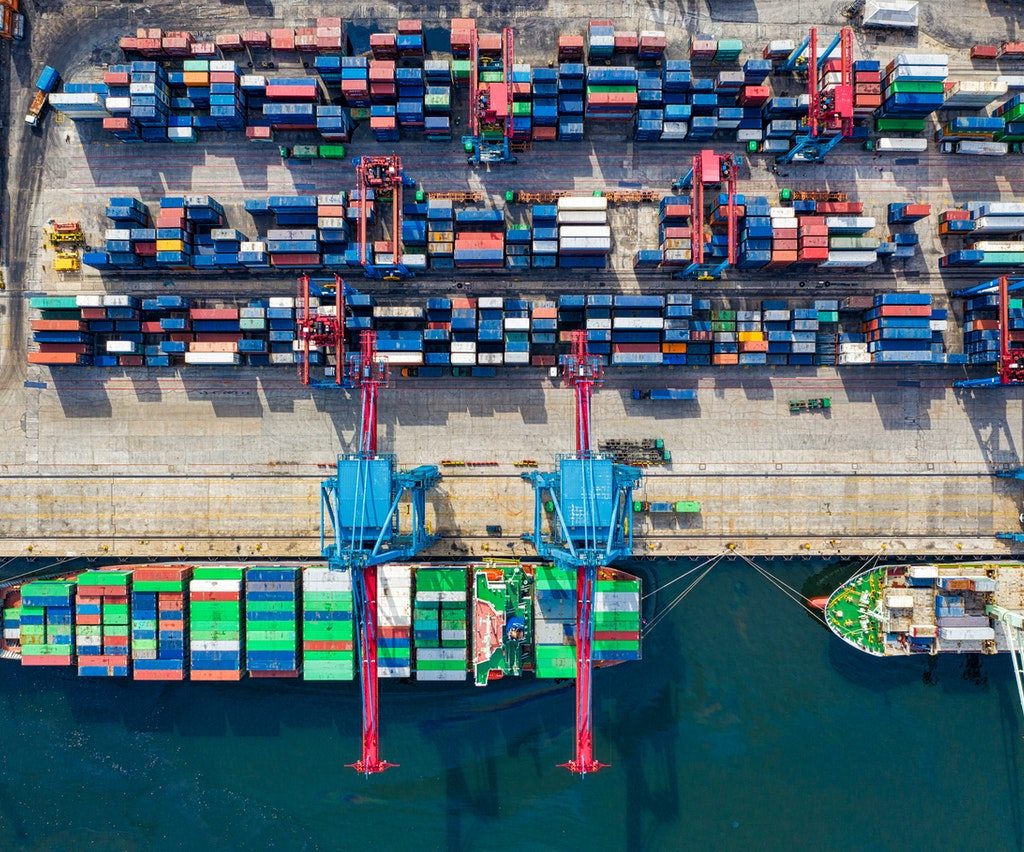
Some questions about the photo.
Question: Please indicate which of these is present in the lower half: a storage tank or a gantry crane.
gantry crane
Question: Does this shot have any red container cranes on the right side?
Yes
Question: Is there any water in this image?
Yes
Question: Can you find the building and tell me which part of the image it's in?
top right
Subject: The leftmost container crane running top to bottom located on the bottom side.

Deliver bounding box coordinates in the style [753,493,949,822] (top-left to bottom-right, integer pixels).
[323,332,444,781]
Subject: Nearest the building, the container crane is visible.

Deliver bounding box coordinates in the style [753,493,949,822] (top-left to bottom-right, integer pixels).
[778,27,852,160]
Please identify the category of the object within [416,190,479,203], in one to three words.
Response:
vehicle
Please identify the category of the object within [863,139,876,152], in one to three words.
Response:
vehicle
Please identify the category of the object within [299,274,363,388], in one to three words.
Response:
container crane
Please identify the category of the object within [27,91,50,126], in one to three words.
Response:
truck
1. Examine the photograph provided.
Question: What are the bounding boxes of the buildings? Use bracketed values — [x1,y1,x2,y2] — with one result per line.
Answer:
[861,0,919,28]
